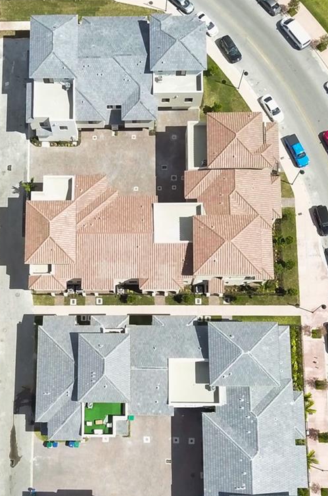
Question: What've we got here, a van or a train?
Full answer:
The one in the frame is a van.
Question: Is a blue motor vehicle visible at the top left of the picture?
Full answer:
No, looking at the top left of the picture, there is no blue motor vehicle.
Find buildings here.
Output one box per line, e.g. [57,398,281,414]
[25,13,208,146]
[24,112,282,294]
[35,315,309,496]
